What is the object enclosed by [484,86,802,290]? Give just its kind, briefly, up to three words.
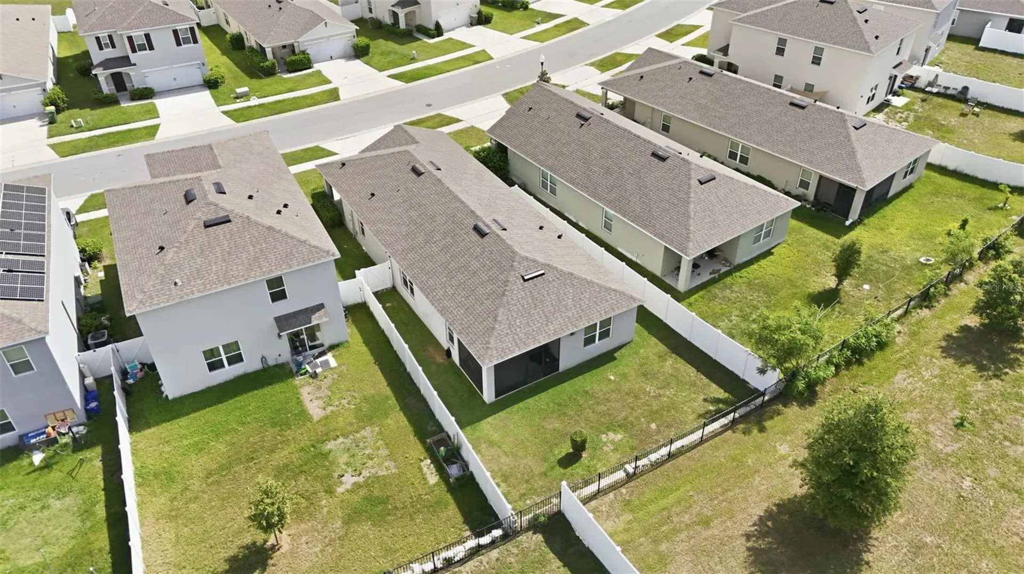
house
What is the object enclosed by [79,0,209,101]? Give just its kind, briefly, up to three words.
house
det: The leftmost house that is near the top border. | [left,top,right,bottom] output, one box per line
[0,3,57,118]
